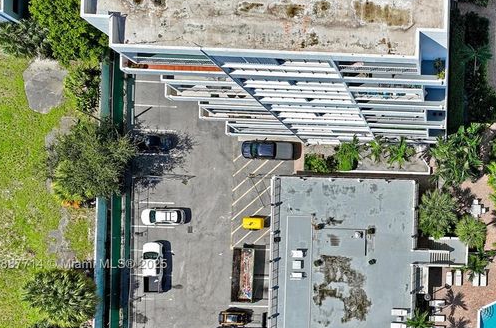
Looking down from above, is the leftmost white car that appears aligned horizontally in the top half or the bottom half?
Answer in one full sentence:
The leftmost white car that appears aligned horizontally is in the bottom half of the image.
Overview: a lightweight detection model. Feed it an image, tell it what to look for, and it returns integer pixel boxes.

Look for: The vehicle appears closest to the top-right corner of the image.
[240,140,291,160]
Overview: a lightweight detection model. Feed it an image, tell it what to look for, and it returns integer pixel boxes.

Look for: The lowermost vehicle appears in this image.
[216,308,244,325]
